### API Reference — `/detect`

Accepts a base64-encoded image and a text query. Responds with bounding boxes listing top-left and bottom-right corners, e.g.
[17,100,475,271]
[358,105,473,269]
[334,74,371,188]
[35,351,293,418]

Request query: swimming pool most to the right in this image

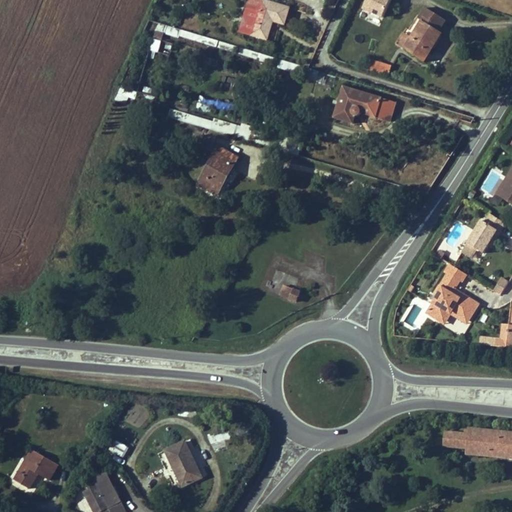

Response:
[480,168,503,198]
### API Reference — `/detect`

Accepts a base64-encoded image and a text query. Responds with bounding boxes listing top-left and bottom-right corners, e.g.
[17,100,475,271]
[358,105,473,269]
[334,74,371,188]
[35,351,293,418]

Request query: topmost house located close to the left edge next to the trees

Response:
[10,451,58,492]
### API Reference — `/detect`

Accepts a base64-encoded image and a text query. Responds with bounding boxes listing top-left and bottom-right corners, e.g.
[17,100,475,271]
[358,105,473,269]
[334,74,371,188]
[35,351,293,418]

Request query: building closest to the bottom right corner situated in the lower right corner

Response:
[442,428,512,460]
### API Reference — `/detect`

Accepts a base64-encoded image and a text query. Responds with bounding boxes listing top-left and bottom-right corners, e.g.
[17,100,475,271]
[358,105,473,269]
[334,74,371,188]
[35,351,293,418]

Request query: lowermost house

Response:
[78,472,128,512]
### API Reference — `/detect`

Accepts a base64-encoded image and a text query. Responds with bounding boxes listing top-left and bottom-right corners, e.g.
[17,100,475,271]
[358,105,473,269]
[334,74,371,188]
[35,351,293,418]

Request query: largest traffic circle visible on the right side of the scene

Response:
[256,318,394,450]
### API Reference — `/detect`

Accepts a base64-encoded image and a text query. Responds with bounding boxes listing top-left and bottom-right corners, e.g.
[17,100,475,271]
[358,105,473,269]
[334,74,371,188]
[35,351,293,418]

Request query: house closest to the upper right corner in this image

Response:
[395,7,446,64]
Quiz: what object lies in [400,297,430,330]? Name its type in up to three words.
swimming pool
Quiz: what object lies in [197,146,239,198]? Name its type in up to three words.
house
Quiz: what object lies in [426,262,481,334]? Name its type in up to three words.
house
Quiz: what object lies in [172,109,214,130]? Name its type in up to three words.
greenhouse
